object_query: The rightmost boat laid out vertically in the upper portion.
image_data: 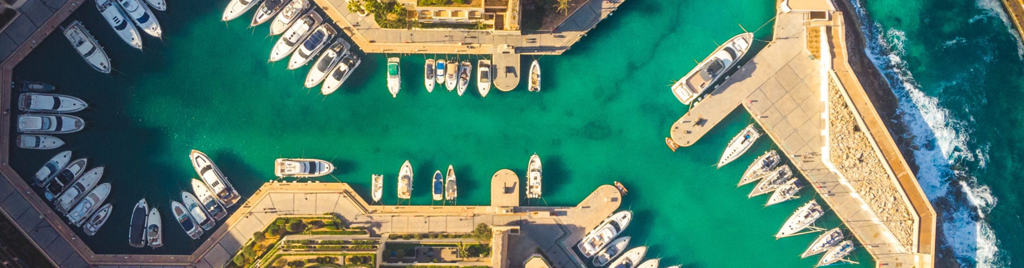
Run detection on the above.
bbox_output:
[528,56,541,94]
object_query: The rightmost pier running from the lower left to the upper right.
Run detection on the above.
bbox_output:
[669,51,764,146]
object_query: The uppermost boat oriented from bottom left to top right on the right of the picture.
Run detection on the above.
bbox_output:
[674,17,775,106]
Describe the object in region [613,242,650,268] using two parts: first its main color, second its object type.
white boat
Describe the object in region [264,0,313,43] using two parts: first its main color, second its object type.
white boat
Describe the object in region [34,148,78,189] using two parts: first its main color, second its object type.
blue boat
